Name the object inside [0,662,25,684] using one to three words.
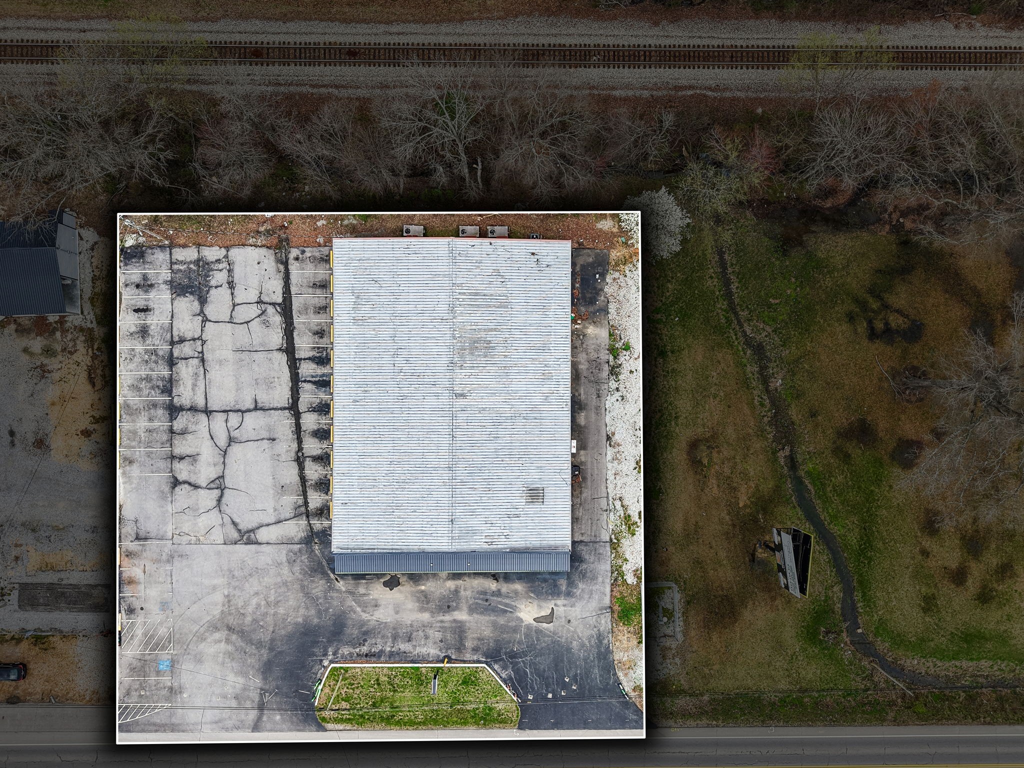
car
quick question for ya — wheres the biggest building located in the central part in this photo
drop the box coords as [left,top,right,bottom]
[332,236,572,573]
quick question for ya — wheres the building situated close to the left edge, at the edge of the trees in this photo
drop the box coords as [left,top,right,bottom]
[0,209,82,319]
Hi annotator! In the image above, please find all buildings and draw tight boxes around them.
[0,209,82,319]
[332,236,572,573]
